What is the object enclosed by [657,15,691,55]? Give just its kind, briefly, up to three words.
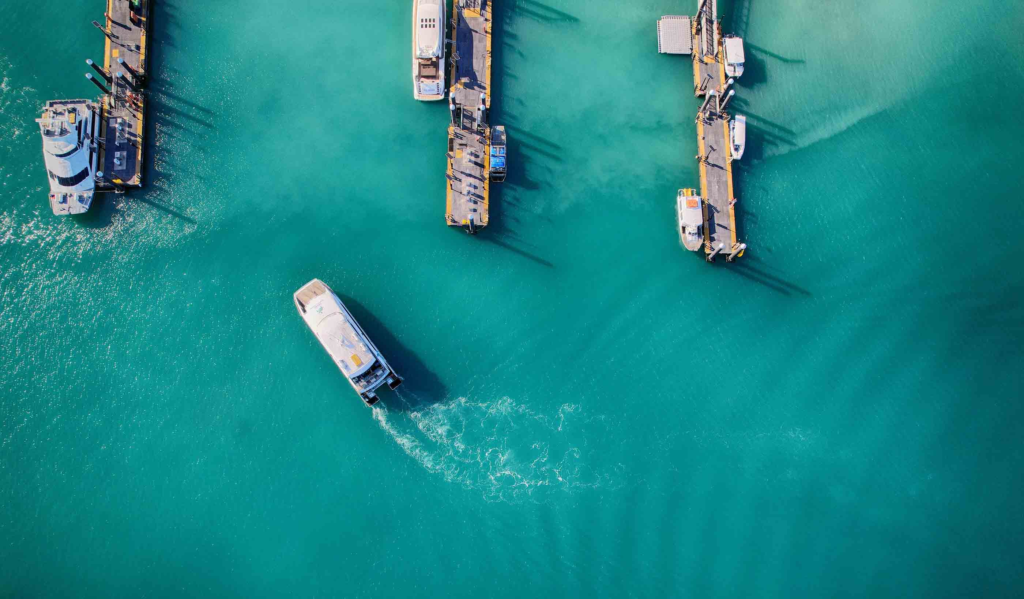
pier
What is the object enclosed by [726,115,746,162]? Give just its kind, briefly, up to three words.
boat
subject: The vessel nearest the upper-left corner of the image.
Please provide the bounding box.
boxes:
[35,99,101,216]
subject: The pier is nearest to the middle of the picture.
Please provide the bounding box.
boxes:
[446,127,491,228]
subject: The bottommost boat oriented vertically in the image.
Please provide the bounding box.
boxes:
[677,188,704,252]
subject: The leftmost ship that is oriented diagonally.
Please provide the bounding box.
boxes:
[294,279,403,406]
